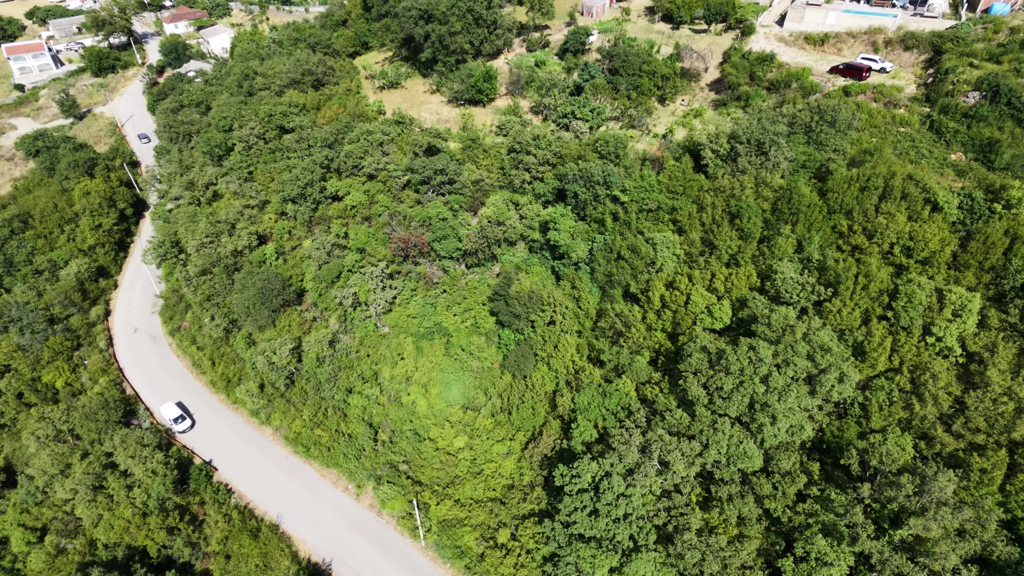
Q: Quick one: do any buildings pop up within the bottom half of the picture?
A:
No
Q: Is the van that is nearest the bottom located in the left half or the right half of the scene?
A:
left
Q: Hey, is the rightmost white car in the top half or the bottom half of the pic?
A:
top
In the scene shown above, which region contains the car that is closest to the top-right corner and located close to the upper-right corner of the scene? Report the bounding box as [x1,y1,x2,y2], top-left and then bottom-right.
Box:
[857,53,893,75]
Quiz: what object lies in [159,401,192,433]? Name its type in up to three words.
van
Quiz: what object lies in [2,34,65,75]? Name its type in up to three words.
house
